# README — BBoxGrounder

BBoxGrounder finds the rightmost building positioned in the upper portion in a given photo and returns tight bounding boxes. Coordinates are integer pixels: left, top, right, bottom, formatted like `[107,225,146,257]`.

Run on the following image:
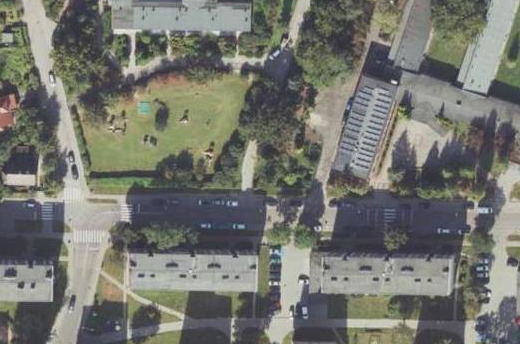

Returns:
[398,71,520,162]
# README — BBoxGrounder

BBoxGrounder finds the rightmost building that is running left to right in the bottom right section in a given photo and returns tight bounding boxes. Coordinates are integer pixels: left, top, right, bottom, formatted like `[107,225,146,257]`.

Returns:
[321,248,454,296]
